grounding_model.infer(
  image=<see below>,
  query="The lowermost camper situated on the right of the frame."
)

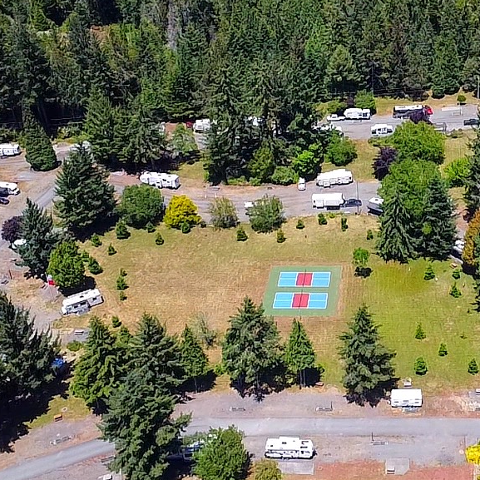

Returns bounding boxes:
[265,436,316,458]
